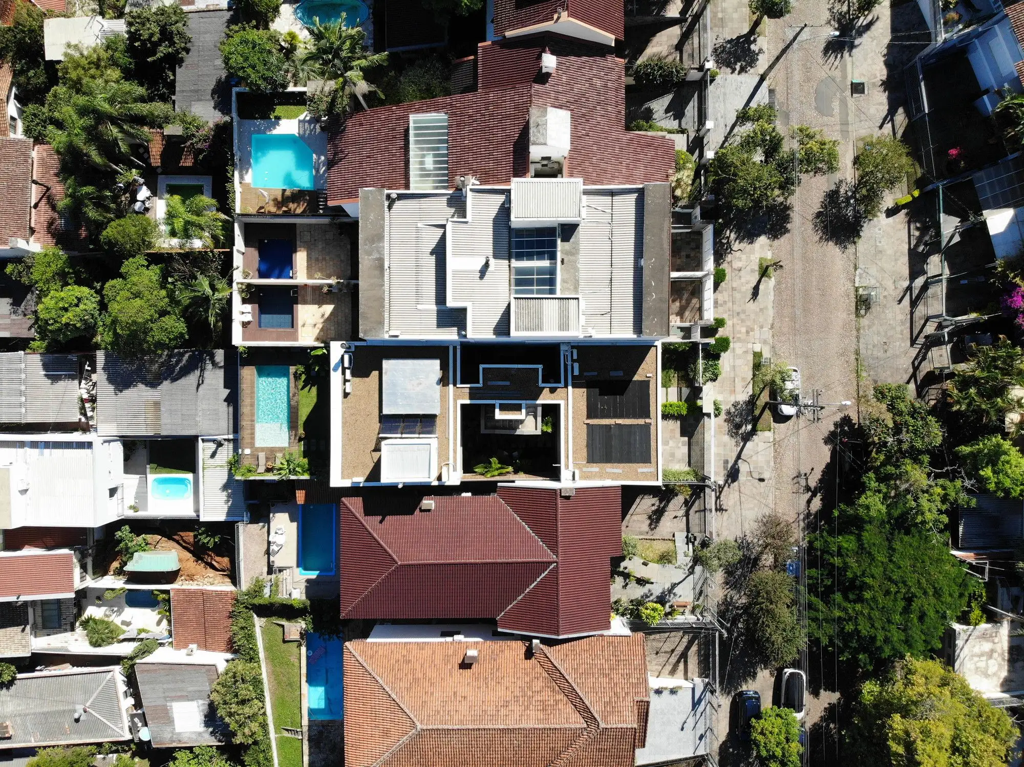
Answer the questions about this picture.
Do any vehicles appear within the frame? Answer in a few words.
Yes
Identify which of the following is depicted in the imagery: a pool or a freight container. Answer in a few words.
pool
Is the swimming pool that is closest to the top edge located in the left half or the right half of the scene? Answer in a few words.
left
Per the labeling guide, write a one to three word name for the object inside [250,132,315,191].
swimming pool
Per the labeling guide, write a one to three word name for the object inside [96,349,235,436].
house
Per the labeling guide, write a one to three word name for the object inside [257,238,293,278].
swimming pool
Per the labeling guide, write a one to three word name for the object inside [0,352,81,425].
shed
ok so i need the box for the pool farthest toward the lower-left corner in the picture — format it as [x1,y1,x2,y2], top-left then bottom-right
[125,589,161,609]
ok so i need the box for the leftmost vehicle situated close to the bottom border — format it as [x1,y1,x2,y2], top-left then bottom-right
[734,685,760,738]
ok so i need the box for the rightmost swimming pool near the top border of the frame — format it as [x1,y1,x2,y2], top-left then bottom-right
[293,0,371,30]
